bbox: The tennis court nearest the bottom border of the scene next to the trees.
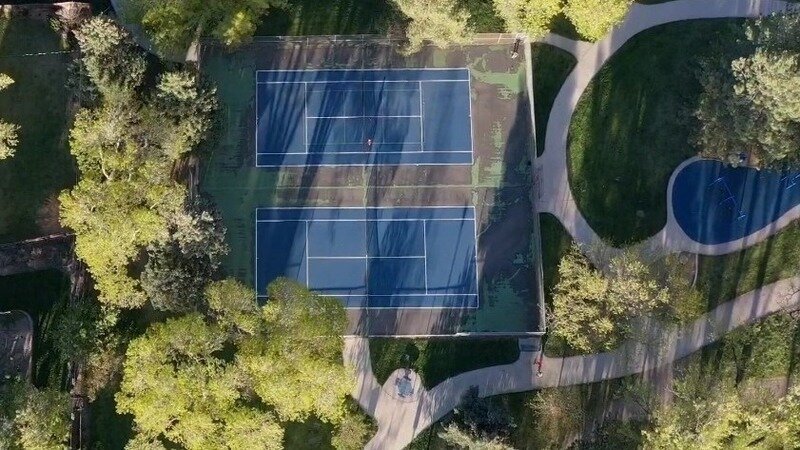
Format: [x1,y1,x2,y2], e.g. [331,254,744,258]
[255,198,477,318]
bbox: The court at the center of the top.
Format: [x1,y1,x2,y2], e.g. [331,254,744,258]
[256,58,472,174]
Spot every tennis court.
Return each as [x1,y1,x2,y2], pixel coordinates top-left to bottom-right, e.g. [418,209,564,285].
[256,58,472,174]
[255,198,477,318]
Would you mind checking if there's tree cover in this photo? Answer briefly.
Yes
